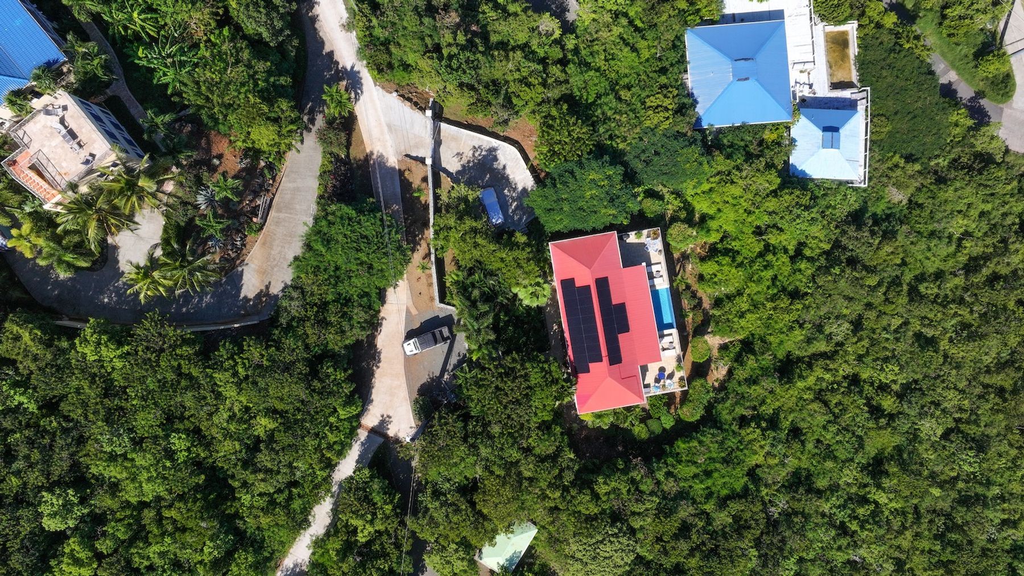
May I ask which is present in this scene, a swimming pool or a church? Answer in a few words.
swimming pool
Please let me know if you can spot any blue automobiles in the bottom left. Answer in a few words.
No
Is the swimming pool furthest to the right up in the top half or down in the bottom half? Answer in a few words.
top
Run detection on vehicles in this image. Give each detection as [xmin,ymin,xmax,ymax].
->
[401,328,454,356]
[480,186,505,227]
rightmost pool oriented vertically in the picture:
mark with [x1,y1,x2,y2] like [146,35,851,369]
[825,22,859,91]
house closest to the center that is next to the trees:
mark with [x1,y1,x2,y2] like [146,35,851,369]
[549,231,662,415]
